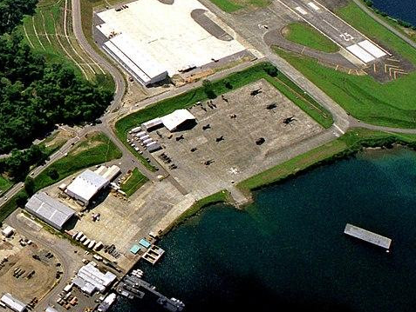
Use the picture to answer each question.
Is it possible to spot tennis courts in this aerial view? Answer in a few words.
No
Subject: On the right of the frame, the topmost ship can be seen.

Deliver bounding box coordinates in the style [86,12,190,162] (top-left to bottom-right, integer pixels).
[344,223,391,250]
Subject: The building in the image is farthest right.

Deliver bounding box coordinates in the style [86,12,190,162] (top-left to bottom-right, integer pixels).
[162,112,198,135]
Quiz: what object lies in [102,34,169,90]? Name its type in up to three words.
hangar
